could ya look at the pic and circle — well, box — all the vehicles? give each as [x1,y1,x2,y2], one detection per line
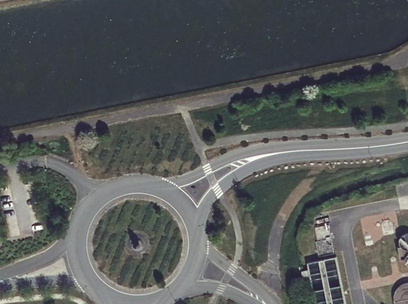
[3,210,15,216]
[31,225,42,232]
[2,202,14,209]
[0,196,12,203]
[24,199,36,206]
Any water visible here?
Yes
